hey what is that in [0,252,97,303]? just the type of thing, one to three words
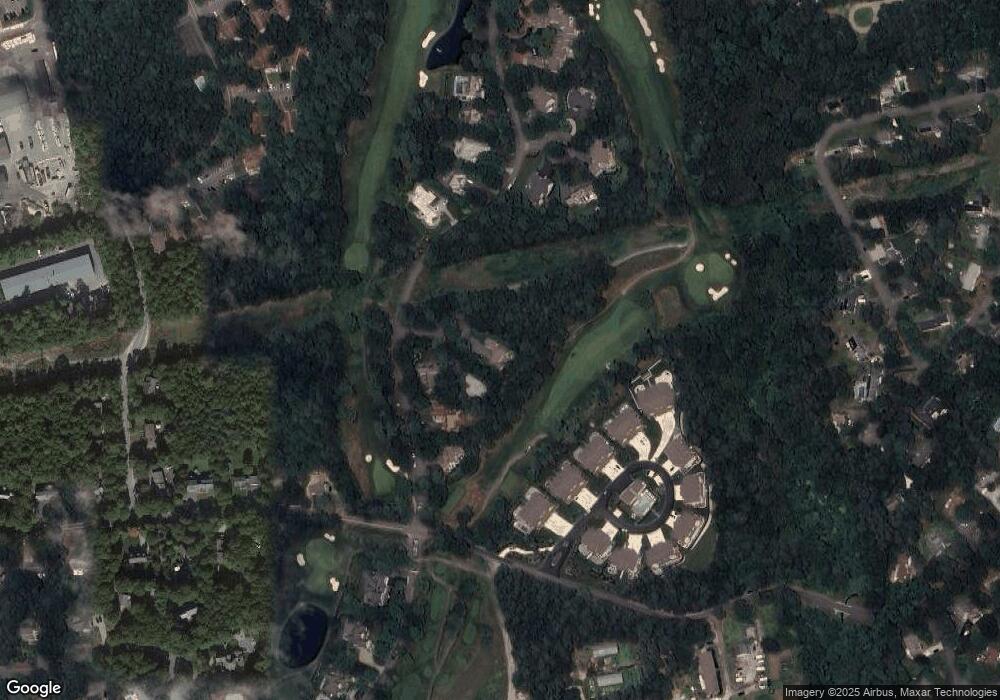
building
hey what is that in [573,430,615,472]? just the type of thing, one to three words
house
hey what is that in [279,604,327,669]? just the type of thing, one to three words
pond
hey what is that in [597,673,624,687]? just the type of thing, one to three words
shed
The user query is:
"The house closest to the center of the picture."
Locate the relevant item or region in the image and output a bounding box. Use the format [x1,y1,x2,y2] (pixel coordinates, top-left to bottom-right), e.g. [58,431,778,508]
[483,334,513,367]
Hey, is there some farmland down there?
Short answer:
No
